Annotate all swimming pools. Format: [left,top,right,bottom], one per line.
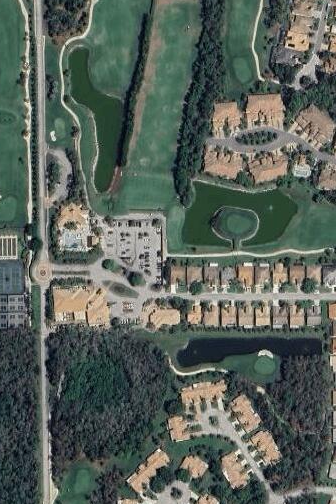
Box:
[294,163,311,176]
[60,231,89,249]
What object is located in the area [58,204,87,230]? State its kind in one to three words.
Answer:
building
